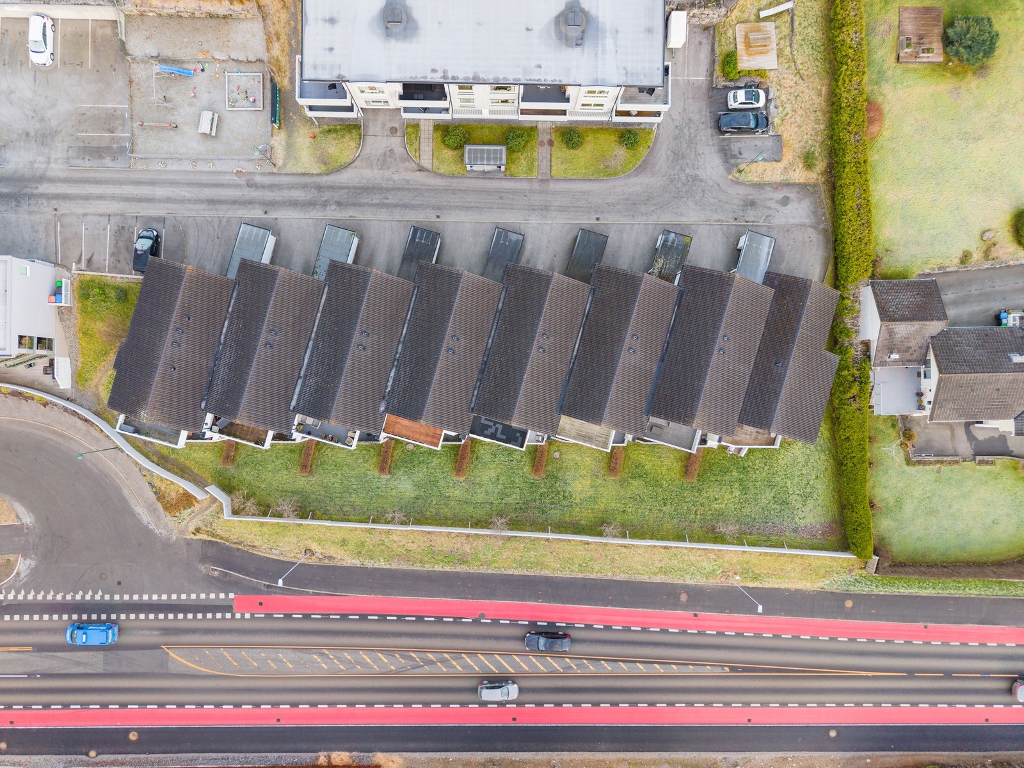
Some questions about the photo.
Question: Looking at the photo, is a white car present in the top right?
Yes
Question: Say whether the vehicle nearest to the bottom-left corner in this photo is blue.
Yes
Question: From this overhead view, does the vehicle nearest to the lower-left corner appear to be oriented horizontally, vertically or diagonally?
horizontally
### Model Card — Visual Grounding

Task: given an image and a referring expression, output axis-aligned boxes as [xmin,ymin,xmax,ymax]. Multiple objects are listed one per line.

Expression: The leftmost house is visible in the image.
[0,255,70,357]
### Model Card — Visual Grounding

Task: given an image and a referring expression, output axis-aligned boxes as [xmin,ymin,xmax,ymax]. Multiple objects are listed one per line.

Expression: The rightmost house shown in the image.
[849,277,1024,435]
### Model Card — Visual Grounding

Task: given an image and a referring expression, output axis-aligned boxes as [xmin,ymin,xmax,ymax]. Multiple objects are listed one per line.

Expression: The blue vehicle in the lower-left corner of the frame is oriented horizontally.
[67,622,122,648]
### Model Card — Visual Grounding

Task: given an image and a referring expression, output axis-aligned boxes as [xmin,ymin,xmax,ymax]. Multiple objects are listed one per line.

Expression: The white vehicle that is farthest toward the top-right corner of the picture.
[724,86,765,110]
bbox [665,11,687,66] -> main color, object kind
white trailer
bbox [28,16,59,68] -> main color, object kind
white car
